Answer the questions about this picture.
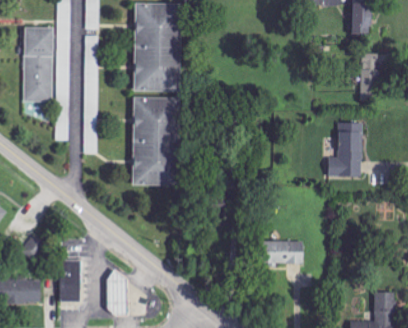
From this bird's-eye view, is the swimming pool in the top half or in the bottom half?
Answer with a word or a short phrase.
top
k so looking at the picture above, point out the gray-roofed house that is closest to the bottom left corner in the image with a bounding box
[0,279,42,306]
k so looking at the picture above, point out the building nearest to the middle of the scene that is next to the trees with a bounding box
[133,96,180,186]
